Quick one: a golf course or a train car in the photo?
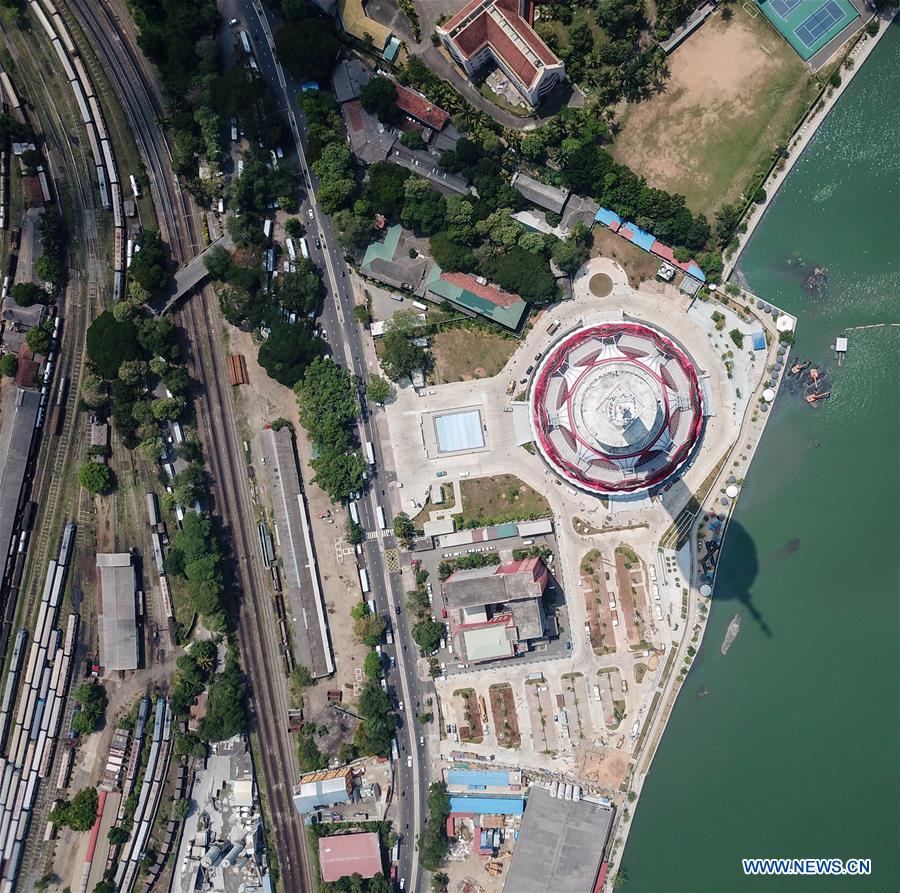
train car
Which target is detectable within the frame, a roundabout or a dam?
roundabout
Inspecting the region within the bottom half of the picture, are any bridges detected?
No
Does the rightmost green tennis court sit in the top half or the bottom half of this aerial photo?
top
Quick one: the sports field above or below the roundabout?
above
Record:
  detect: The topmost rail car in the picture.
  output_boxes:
[97,166,113,210]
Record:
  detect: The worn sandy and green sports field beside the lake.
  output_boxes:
[613,0,813,221]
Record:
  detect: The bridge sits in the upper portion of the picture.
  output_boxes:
[164,234,228,302]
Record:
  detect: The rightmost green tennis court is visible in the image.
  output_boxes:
[758,0,860,61]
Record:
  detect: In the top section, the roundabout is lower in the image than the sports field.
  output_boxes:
[570,253,633,316]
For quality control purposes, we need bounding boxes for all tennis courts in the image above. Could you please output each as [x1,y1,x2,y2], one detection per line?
[758,0,860,61]
[768,0,804,18]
